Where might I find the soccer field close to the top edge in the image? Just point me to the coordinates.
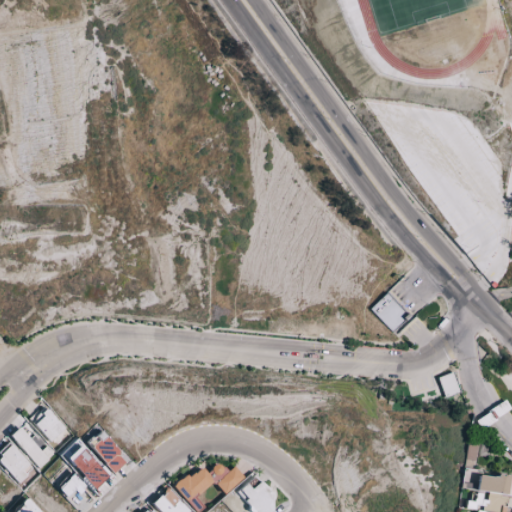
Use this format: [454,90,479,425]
[368,0,480,38]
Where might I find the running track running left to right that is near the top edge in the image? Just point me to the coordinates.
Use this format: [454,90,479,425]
[359,0,496,78]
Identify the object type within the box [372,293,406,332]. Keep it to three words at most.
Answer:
building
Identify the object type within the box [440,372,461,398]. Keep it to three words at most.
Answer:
building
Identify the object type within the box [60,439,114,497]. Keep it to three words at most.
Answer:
house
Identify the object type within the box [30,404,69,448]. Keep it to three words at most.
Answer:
house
